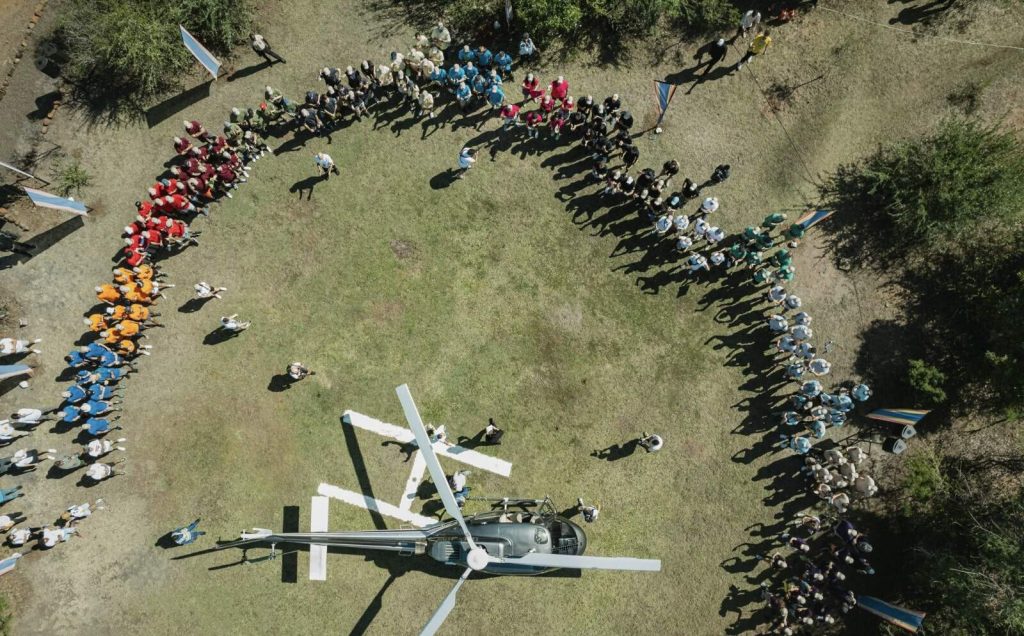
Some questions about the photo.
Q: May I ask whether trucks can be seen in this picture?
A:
No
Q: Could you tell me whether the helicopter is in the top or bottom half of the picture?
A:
bottom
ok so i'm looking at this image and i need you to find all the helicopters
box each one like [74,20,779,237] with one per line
[210,388,662,636]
